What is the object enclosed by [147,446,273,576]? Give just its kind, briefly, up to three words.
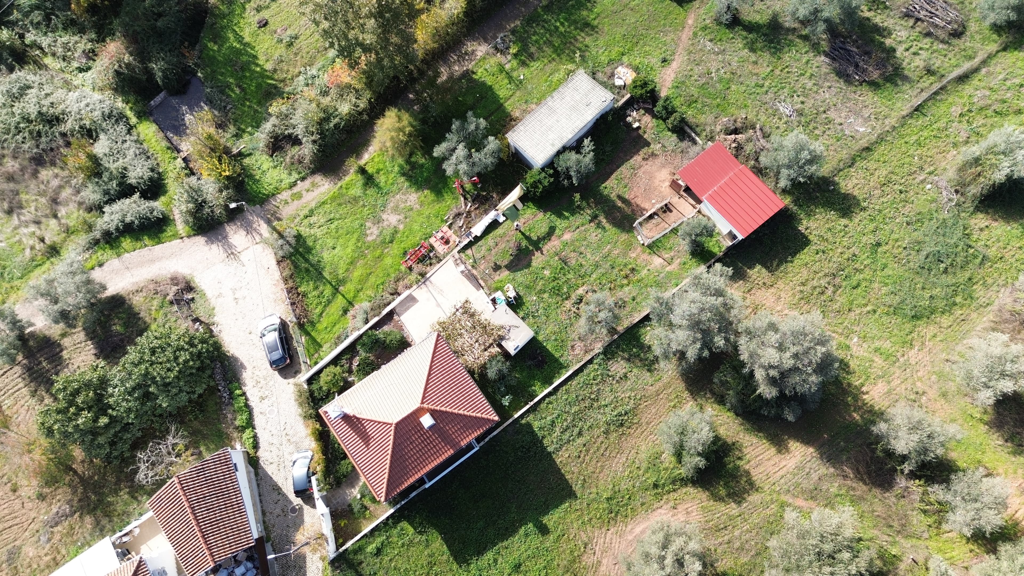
house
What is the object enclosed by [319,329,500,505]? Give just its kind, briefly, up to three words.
house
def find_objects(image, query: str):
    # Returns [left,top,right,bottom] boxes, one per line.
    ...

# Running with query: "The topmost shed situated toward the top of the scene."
[507,67,612,173]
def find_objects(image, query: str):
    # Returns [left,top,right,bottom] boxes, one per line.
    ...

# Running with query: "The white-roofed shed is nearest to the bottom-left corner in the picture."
[48,535,127,576]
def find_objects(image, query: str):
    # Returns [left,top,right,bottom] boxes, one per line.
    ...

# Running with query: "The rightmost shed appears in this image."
[677,141,785,245]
